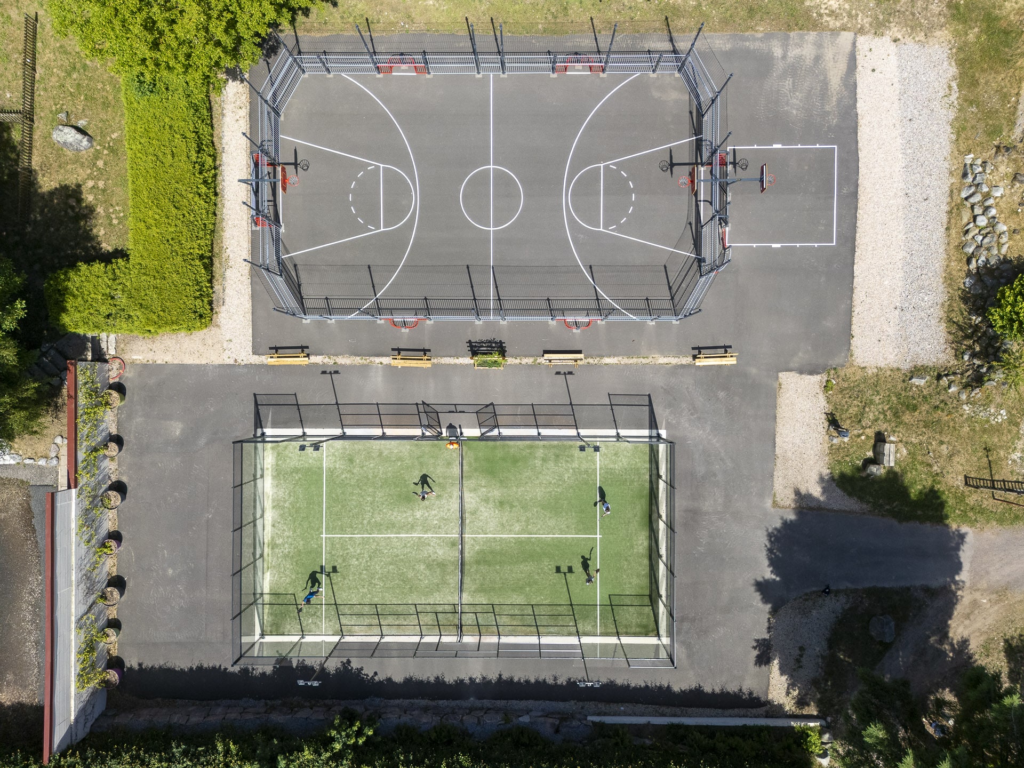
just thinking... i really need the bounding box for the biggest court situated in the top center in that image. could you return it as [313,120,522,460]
[280,72,703,321]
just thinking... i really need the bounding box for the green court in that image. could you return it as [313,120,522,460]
[232,421,676,668]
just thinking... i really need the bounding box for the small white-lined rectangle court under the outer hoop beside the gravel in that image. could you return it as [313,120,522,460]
[727,144,836,247]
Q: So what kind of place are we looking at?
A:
sports ground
